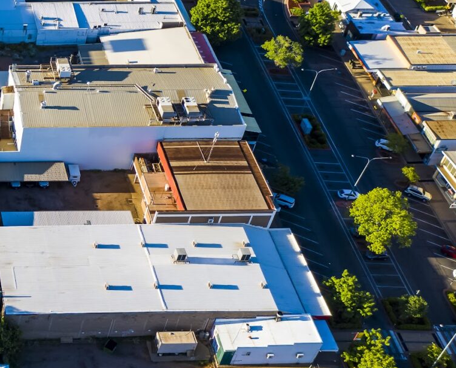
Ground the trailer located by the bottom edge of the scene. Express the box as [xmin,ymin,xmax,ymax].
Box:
[154,330,200,359]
